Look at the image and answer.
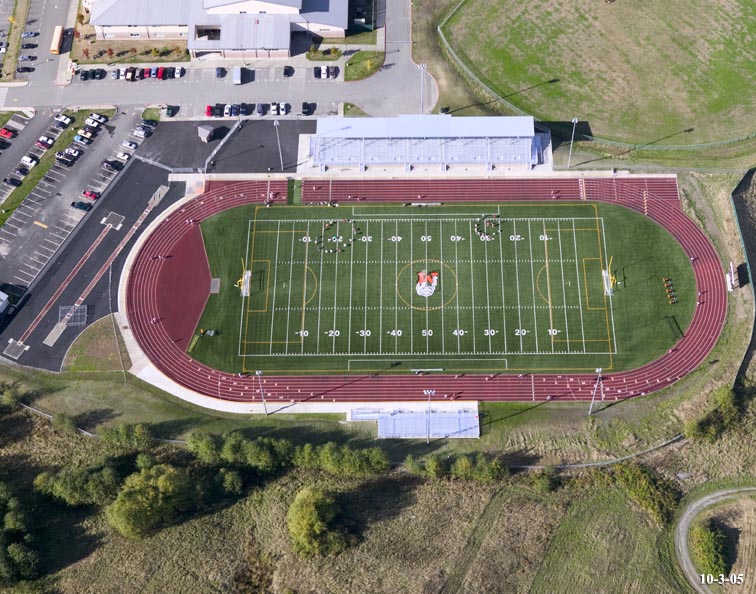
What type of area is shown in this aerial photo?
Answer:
sports ground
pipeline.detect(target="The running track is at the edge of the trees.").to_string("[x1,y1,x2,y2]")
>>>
[125,178,727,403]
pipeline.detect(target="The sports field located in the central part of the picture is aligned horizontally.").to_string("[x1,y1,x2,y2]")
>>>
[185,201,697,376]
